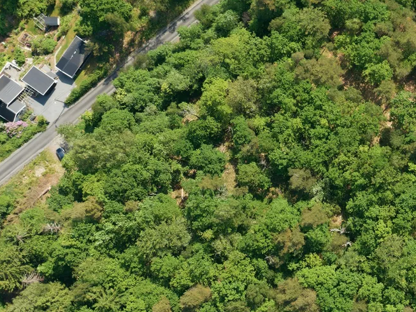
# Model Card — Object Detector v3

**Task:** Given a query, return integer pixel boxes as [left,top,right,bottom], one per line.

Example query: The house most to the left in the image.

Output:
[0,74,31,122]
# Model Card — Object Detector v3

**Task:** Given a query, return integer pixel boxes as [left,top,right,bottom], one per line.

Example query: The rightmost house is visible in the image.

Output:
[55,35,94,78]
